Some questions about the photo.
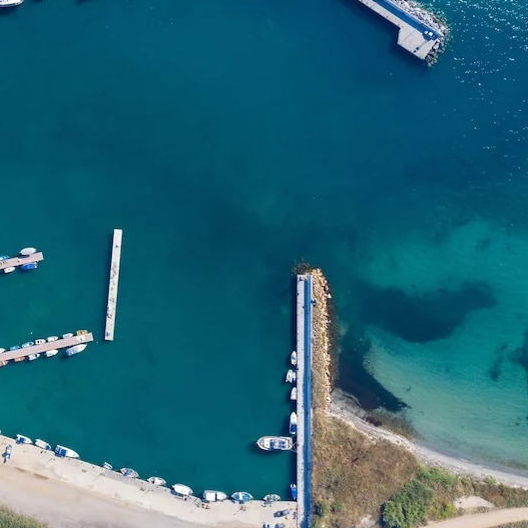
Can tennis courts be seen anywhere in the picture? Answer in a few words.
No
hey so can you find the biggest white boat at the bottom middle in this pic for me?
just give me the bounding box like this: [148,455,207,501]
[257,436,297,450]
